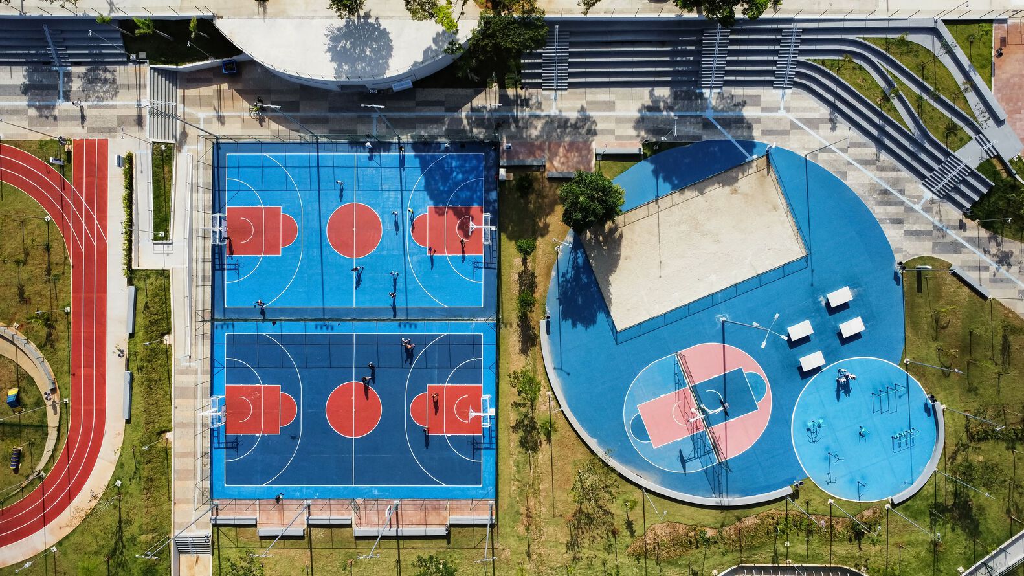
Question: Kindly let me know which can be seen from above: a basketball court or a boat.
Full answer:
It is a basketball court that can be seen here.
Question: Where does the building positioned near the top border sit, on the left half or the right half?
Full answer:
The building positioned near the top border is on the left side of the image.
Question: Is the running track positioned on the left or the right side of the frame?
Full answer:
It is on the left.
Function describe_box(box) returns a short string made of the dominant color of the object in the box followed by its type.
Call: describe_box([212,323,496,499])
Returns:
blue sports court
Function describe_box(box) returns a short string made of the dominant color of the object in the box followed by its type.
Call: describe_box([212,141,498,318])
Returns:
blue sports court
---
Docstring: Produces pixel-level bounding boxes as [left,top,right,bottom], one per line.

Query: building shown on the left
[213,16,480,92]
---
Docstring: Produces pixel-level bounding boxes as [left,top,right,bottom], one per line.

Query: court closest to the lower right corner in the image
[623,343,774,471]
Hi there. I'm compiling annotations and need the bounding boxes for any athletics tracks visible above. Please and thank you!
[0,139,109,548]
